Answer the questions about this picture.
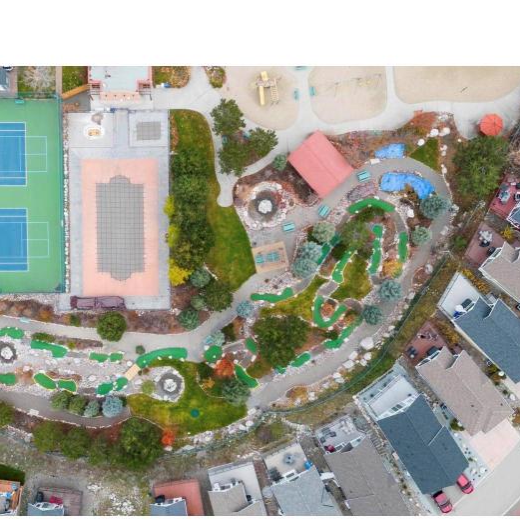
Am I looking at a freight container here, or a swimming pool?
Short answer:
swimming pool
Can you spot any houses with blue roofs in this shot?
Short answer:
Yes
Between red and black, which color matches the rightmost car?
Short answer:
red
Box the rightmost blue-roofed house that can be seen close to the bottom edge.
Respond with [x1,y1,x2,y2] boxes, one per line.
[354,360,465,495]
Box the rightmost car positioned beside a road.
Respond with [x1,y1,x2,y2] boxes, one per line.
[454,471,475,496]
